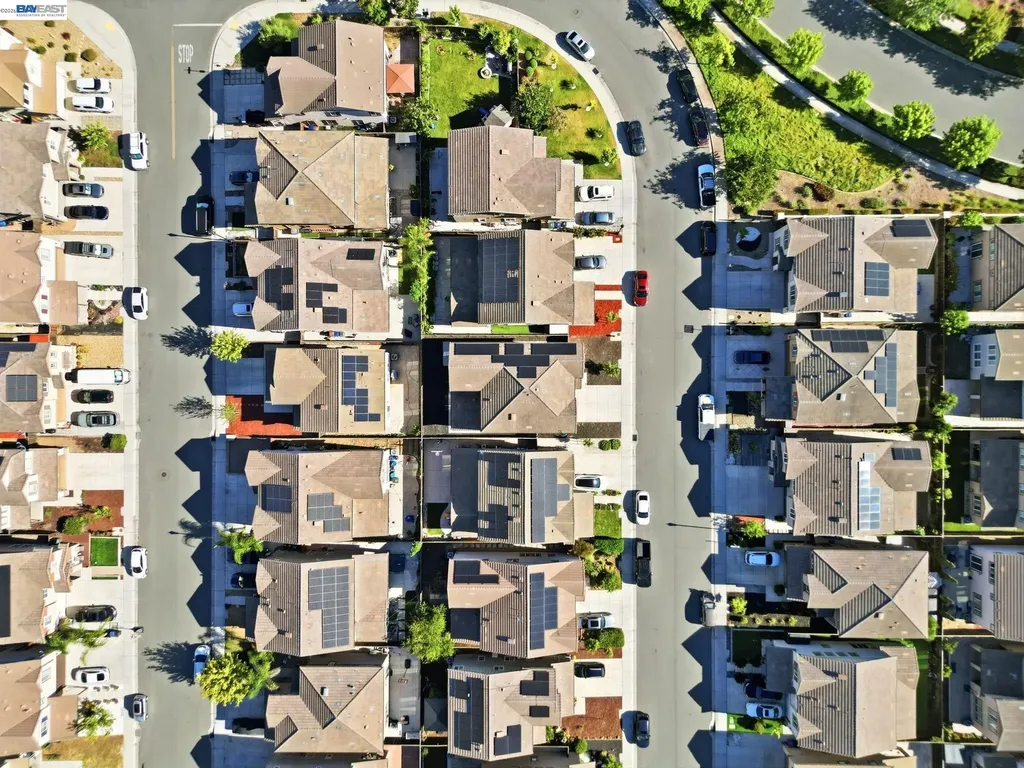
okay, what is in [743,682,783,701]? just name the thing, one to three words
vehicle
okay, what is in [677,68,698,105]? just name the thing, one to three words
car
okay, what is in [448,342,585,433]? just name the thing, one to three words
house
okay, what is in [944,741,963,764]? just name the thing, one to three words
shed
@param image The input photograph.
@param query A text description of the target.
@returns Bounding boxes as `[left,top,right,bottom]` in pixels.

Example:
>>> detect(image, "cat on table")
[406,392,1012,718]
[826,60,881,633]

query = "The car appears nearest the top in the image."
[564,31,595,63]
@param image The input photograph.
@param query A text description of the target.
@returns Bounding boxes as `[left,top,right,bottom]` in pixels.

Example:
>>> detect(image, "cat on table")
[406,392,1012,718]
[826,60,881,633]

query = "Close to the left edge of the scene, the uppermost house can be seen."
[0,44,66,119]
